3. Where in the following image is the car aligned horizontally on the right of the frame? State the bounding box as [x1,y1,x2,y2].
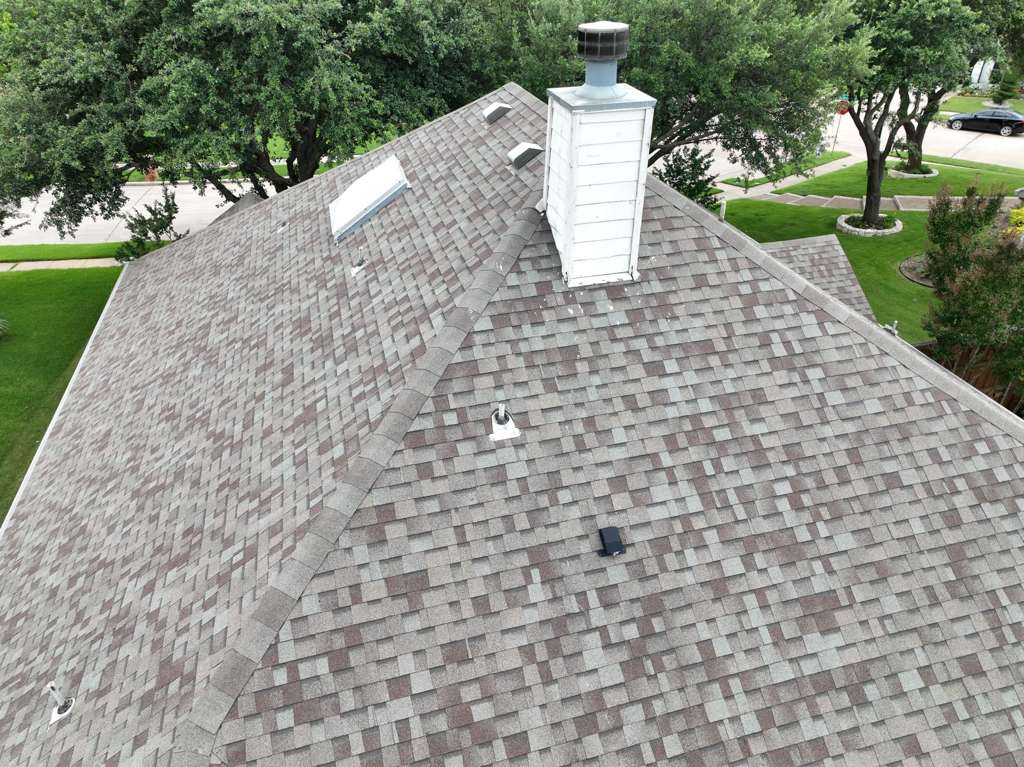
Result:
[950,109,1024,137]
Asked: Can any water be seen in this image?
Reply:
No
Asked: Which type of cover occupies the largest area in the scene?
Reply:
buildings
